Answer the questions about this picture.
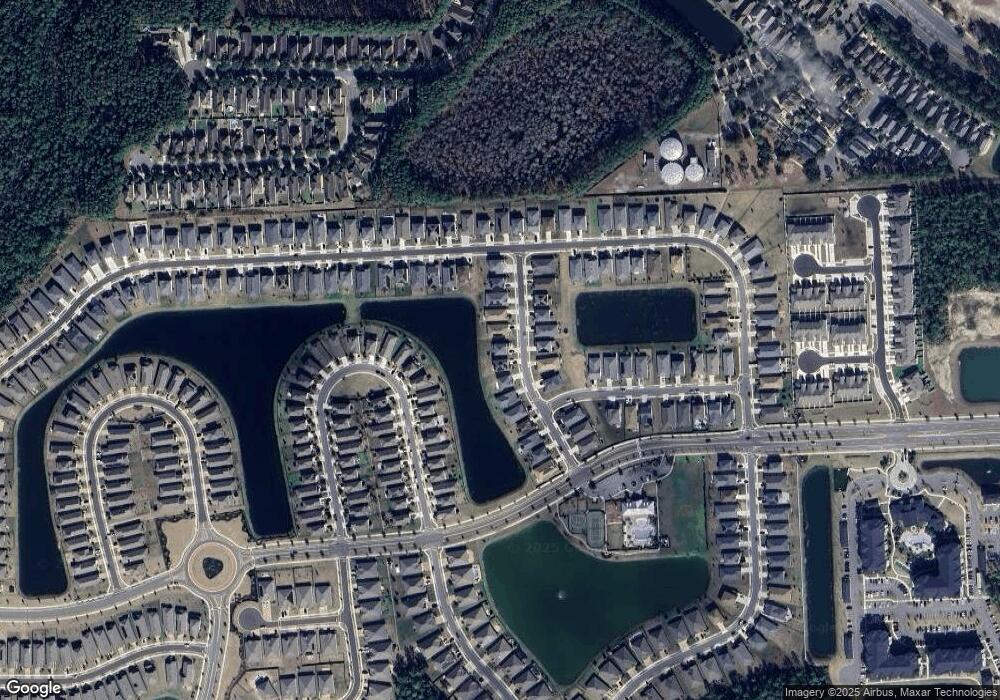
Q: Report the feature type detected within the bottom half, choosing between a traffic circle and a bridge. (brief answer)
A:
traffic circle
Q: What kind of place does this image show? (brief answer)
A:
residential area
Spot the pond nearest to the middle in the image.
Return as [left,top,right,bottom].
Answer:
[576,287,697,347]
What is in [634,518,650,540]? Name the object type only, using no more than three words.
swimming pool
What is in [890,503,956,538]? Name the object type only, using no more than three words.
building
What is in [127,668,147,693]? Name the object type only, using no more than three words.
house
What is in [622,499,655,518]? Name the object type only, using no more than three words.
building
